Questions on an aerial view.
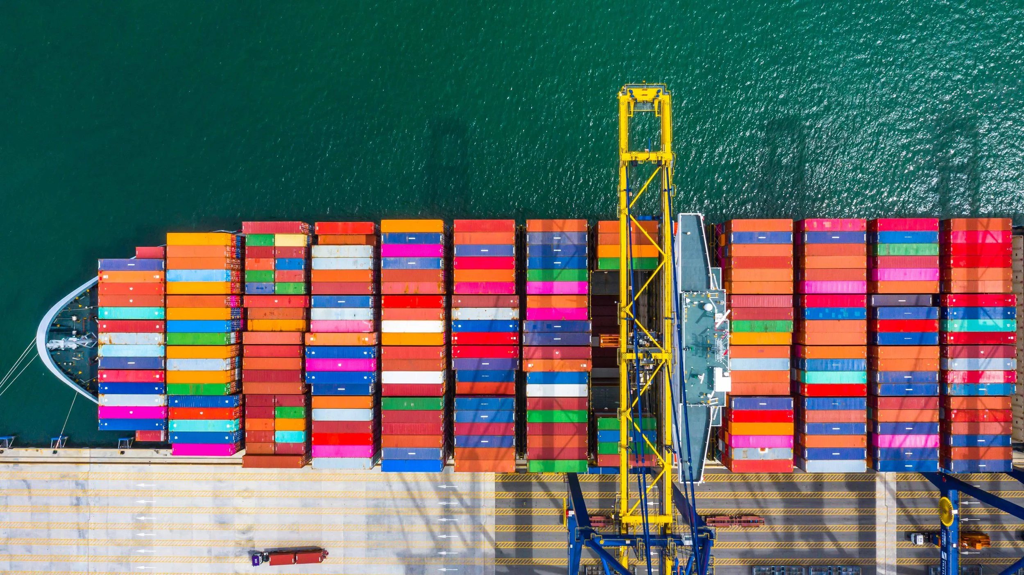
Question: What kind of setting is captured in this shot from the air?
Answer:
port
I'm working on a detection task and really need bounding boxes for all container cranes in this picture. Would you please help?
[558,72,731,575]
[903,462,1024,575]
